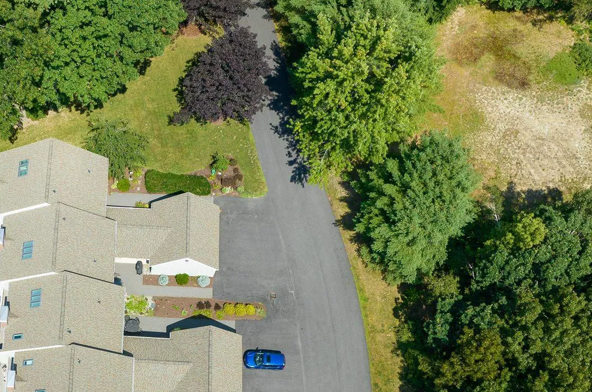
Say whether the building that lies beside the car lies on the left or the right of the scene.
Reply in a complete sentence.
The building that lies beside the car appears in the left half of the scene.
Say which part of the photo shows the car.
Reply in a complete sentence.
Look in the bottom portion of the view to spot the car.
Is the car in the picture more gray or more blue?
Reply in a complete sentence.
The car is blue.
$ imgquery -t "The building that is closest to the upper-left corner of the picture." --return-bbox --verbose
[0,138,110,229]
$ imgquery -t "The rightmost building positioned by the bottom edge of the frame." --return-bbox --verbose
[125,326,244,392]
